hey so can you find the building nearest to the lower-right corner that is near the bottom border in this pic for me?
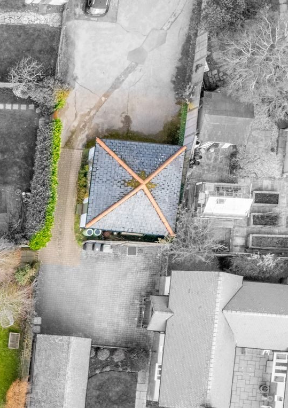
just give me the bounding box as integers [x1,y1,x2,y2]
[139,270,288,408]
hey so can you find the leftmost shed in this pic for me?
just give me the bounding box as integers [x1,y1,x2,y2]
[29,334,92,408]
